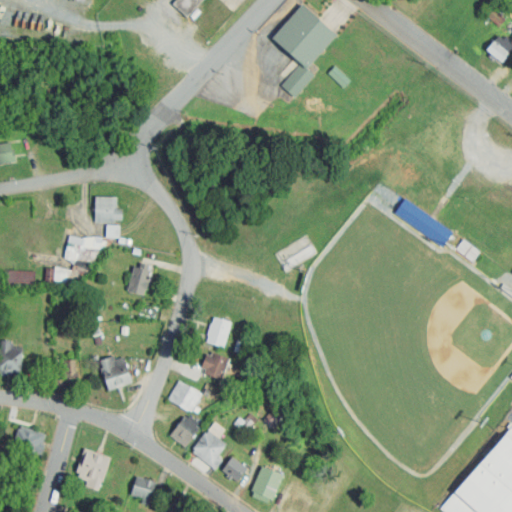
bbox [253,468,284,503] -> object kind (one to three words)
house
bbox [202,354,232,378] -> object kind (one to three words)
house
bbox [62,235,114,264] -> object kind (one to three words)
barn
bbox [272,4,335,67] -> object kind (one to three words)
barn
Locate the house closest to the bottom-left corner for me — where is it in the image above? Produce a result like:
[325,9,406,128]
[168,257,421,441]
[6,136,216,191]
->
[14,426,48,454]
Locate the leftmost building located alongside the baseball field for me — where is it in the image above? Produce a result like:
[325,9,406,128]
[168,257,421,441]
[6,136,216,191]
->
[276,236,316,270]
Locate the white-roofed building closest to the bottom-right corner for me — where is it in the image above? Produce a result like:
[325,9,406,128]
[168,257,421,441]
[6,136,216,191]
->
[439,423,512,512]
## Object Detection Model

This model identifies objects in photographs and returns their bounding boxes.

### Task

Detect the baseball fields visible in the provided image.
[302,190,512,476]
